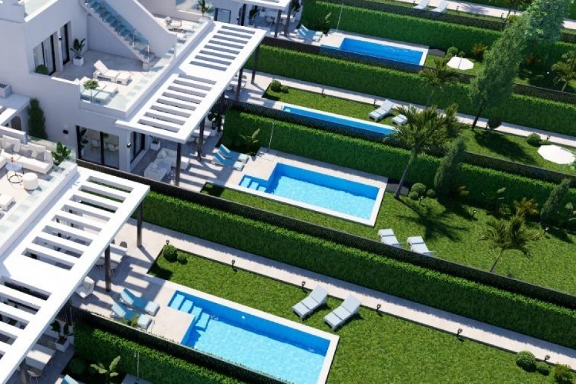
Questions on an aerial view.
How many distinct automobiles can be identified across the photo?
zero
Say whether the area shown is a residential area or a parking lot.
residential area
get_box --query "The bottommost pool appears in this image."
[145,273,339,384]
